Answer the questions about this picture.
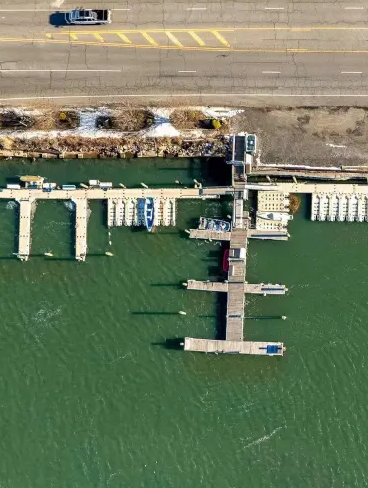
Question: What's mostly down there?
water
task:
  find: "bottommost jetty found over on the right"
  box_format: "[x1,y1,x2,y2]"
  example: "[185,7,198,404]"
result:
[184,211,289,356]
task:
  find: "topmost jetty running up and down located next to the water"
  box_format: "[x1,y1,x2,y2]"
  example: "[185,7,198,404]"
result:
[226,136,249,191]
